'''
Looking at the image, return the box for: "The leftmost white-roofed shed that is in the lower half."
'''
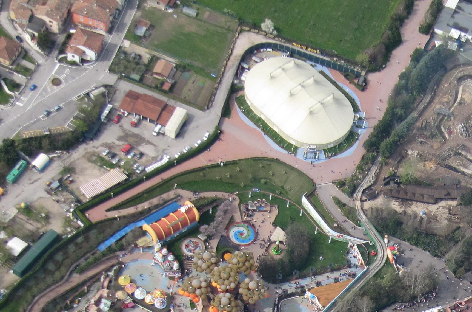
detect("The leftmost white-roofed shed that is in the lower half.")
[6,236,28,259]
